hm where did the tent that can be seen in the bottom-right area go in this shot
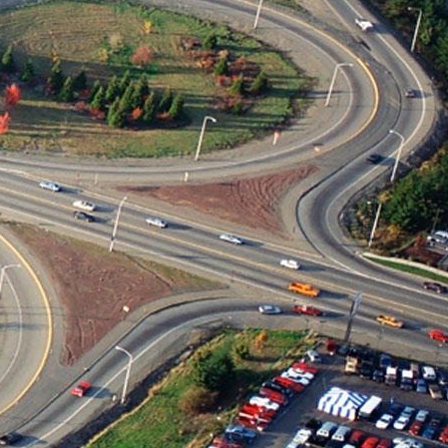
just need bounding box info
[315,383,369,422]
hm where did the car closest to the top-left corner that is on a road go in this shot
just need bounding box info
[37,181,62,193]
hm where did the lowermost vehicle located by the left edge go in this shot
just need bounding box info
[0,431,24,448]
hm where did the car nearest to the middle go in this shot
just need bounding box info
[219,232,242,245]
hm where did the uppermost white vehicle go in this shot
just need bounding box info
[356,18,372,32]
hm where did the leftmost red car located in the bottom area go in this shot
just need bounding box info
[71,380,92,397]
